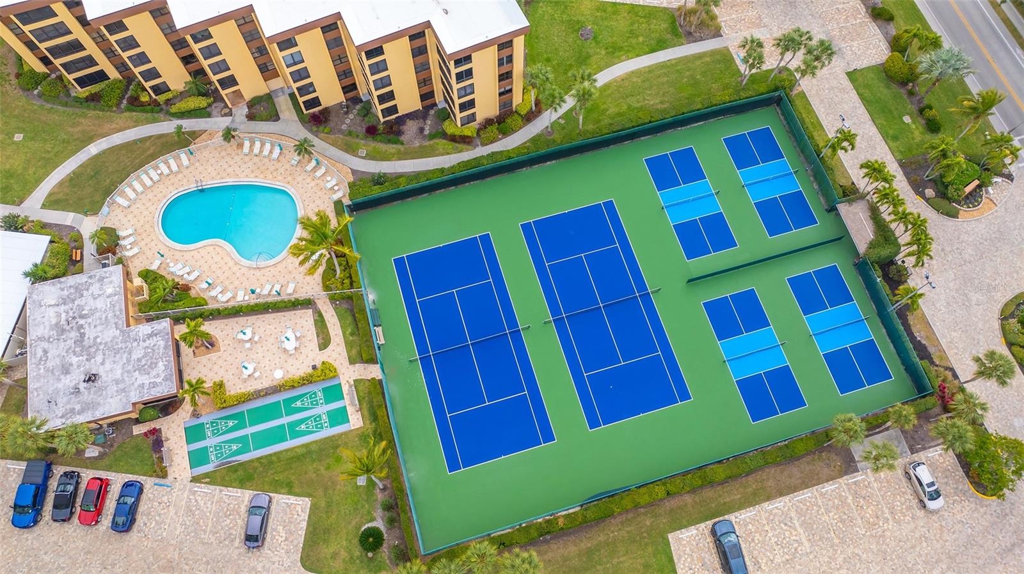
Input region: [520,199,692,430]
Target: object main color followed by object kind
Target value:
blue tennis court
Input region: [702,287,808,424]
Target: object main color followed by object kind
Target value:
blue sports court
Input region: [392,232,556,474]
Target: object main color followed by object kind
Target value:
blue tennis court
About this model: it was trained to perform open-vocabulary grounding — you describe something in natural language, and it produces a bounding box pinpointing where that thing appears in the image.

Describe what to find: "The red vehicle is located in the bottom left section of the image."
[79,477,112,527]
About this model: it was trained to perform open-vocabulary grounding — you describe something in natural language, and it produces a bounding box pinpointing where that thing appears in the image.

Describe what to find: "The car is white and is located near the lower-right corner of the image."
[907,459,945,513]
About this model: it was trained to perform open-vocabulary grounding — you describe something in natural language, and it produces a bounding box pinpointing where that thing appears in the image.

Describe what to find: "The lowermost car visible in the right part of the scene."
[715,520,751,574]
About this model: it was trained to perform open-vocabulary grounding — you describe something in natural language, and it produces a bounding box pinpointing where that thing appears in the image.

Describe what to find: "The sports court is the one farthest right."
[785,263,895,396]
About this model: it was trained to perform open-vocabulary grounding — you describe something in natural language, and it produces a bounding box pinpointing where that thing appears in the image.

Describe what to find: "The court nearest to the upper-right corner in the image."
[722,125,819,238]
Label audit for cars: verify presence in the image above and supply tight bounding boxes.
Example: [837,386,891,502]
[109,479,147,534]
[79,477,112,527]
[243,493,272,549]
[715,520,751,574]
[907,459,945,513]
[50,471,83,523]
